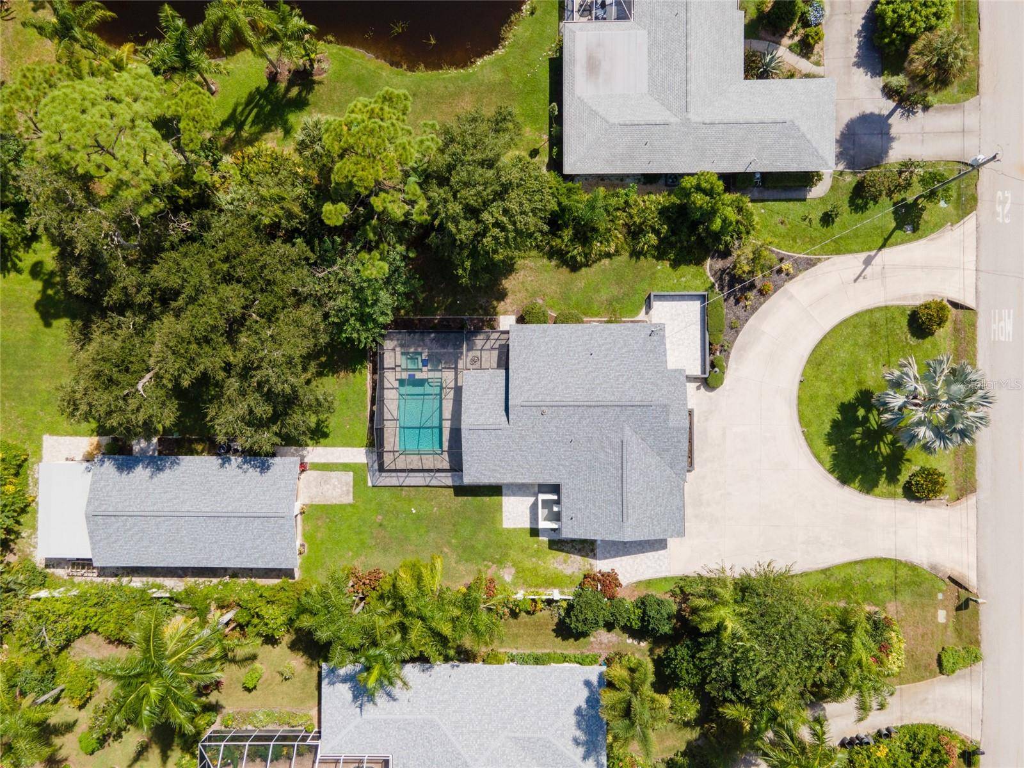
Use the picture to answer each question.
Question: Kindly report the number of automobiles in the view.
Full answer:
The photo contains no automobiles.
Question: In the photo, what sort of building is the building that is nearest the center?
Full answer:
The building that is nearest the center appears to be a residential house.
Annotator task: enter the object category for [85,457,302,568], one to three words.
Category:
shed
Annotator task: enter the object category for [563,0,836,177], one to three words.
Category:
house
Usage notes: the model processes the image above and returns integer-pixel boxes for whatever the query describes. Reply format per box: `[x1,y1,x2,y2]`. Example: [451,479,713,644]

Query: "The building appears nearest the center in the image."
[461,324,690,541]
